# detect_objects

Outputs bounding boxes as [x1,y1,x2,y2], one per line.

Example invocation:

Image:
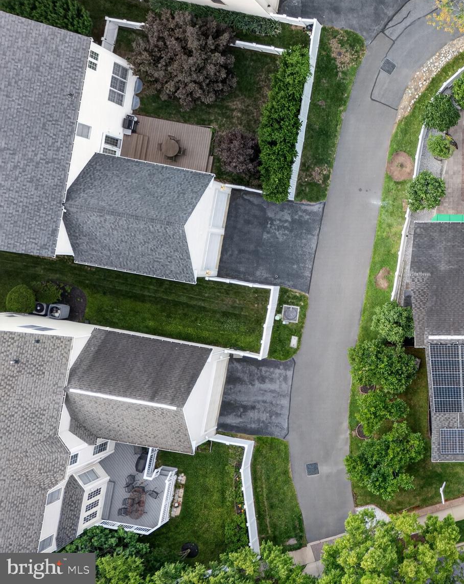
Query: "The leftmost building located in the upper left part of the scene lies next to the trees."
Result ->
[0,10,231,284]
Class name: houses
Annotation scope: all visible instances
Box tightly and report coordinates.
[0,323,228,569]
[0,10,231,284]
[188,0,280,16]
[401,220,464,463]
